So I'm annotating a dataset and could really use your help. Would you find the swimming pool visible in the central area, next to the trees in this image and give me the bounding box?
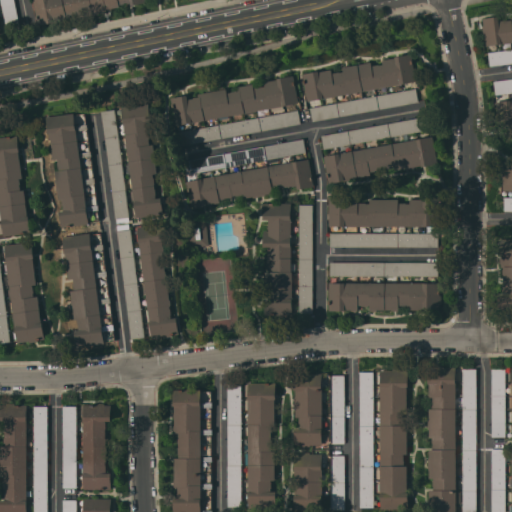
[210,214,248,258]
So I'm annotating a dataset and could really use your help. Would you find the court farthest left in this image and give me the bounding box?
[202,258,239,334]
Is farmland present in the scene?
No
